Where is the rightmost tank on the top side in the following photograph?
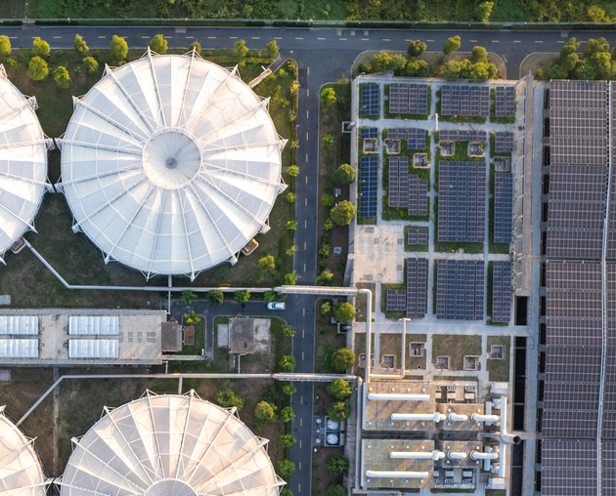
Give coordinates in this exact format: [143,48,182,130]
[57,48,289,282]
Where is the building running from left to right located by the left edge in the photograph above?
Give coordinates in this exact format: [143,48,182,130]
[0,309,182,364]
